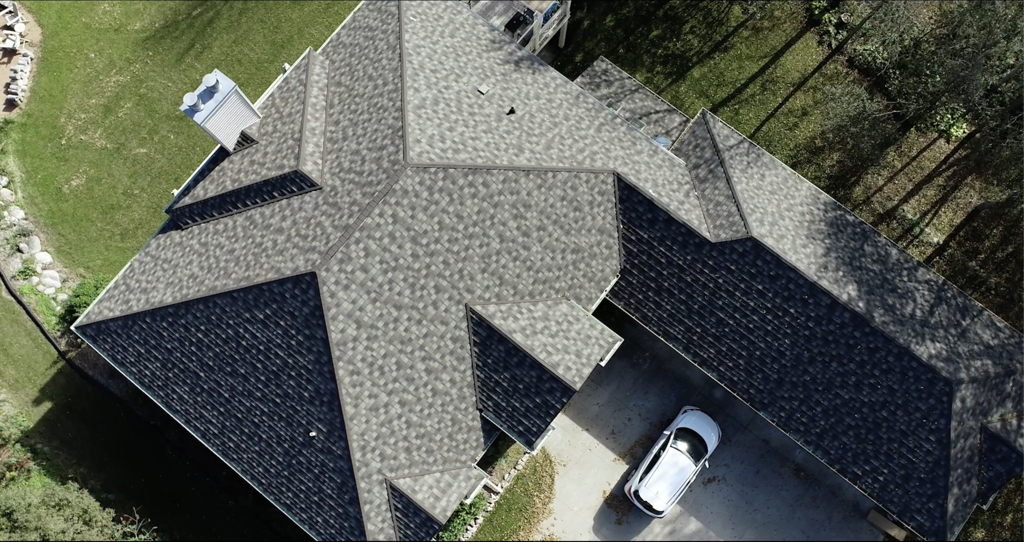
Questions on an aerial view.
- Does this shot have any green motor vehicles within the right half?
No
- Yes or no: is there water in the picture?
No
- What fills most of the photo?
buildings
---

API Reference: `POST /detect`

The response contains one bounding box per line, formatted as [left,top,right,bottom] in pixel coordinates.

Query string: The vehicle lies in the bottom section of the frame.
[621,407,717,518]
